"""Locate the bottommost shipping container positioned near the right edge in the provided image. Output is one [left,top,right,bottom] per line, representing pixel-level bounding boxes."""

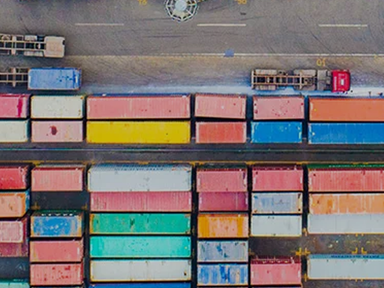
[308,253,384,279]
